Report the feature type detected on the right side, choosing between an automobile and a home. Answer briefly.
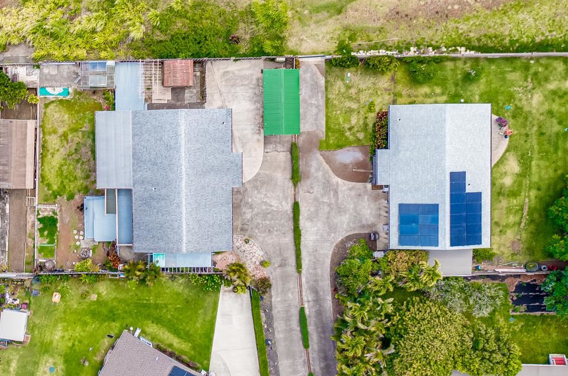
home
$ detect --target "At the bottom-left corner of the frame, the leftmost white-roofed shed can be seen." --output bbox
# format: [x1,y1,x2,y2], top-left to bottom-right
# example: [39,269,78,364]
[0,308,30,343]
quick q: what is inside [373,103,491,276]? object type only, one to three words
house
